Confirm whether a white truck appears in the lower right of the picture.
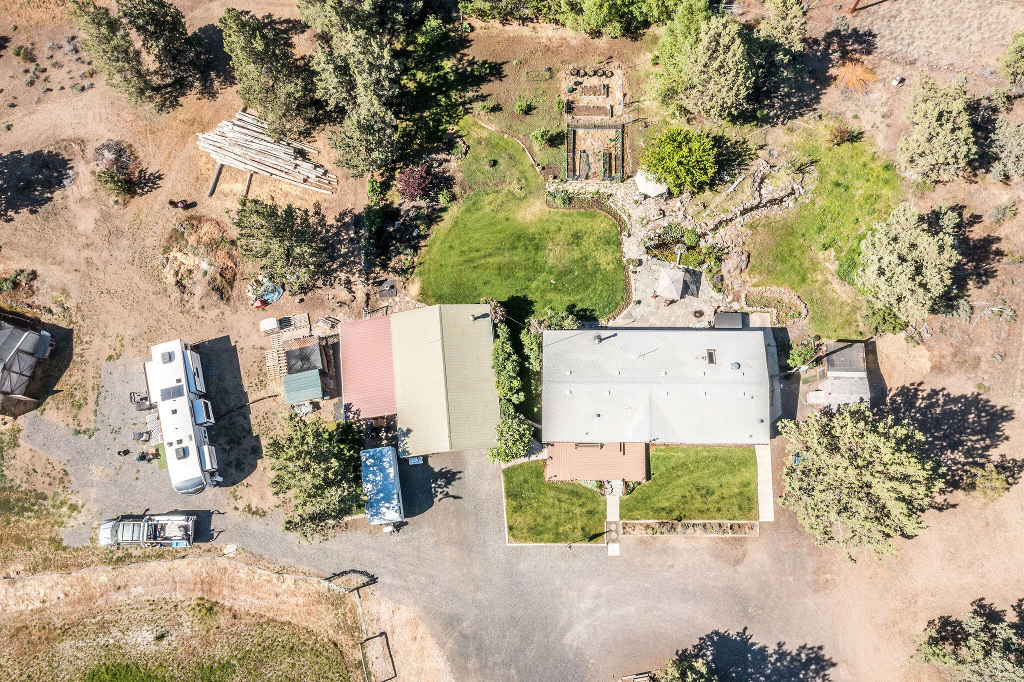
No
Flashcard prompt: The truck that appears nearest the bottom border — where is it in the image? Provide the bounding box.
[99,515,202,549]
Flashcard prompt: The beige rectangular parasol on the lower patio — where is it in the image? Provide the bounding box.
[656,270,682,300]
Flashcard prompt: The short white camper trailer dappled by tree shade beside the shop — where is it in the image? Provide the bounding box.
[360,446,403,538]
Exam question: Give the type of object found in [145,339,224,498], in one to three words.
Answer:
trailer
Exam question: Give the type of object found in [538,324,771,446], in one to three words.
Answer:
house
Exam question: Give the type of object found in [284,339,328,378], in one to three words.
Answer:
shed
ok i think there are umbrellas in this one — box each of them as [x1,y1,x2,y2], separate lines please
[656,270,682,300]
[629,167,670,200]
